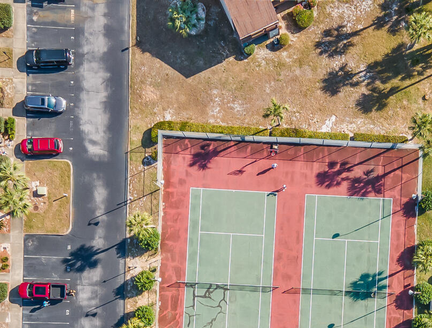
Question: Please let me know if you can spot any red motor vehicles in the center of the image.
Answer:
No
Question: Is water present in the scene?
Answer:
No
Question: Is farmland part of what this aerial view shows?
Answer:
No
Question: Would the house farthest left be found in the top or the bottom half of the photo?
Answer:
top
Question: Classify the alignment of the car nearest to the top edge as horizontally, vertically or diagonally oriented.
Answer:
horizontally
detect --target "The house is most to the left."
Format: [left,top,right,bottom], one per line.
[219,0,279,53]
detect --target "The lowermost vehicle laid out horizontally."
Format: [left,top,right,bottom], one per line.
[19,281,69,300]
